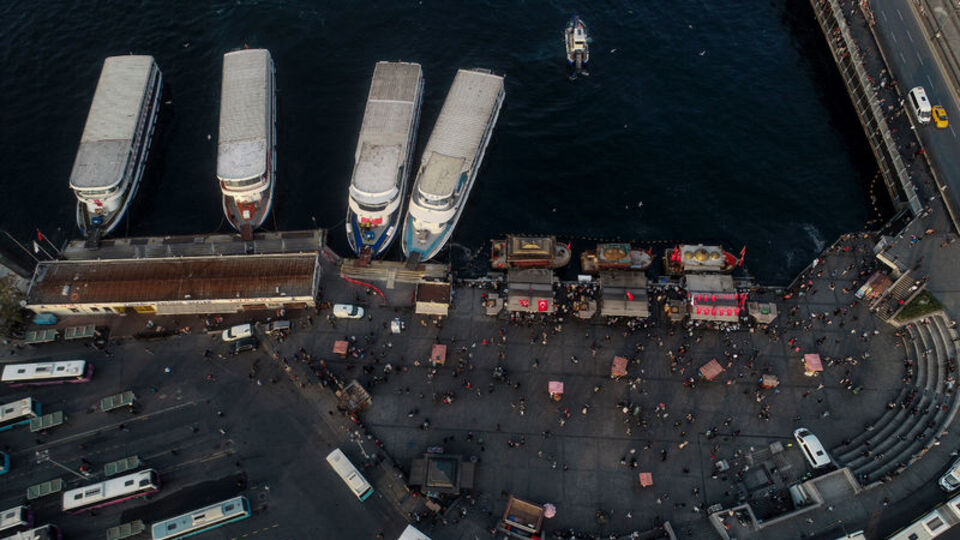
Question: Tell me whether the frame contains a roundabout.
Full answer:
No, I find no roundabout anywhere in the image.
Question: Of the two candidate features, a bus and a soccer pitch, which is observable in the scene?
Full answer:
It is a bus that can be seen here.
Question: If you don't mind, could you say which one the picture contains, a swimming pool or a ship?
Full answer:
It is a ship that can be seen here.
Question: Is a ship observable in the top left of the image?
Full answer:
Yes, a ship appears in the top left of the image.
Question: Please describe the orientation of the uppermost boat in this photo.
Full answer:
Seen from above, the uppermost boat lies vertically.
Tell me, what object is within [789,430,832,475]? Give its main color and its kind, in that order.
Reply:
white vehicle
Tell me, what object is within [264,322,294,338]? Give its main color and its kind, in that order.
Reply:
gray car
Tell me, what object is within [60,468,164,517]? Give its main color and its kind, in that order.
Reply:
white bus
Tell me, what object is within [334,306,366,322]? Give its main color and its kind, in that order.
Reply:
white vehicle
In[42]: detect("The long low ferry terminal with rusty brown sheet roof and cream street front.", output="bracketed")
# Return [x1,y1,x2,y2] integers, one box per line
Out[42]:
[23,253,321,322]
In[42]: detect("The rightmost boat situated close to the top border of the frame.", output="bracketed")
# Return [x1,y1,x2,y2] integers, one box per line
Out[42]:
[565,16,590,69]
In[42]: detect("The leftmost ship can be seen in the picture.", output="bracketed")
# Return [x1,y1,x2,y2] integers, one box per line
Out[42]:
[69,50,164,241]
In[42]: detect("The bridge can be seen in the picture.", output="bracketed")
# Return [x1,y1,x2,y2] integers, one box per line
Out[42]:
[810,0,960,230]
